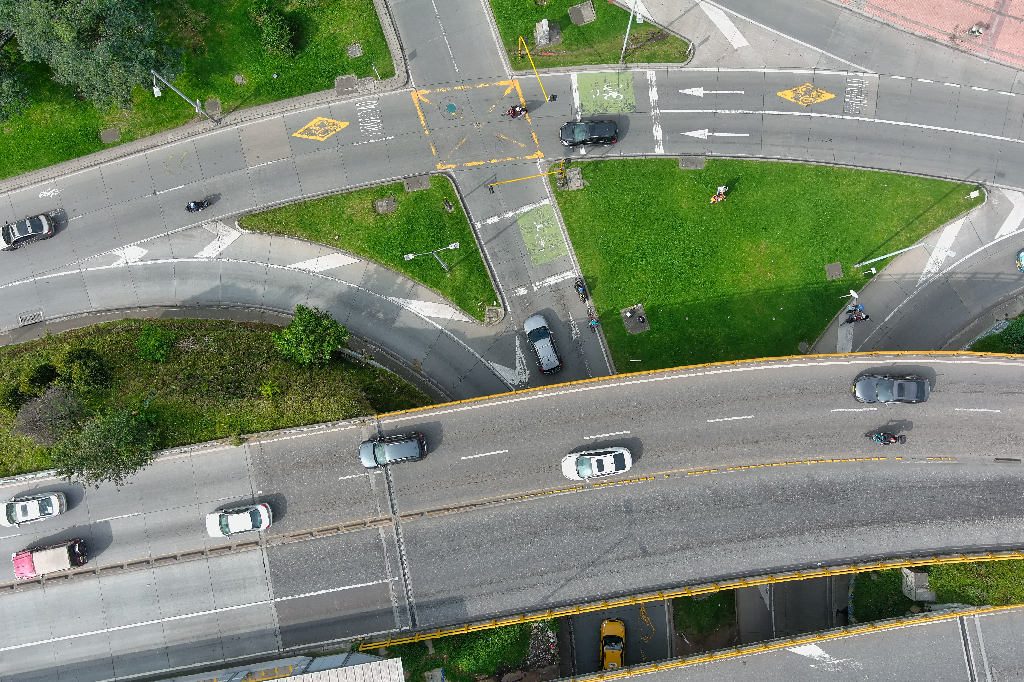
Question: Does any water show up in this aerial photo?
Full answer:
No, water can't be seen anywhere here.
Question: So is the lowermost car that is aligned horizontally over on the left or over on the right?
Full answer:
The lowermost car that is aligned horizontally is on the left side of the image.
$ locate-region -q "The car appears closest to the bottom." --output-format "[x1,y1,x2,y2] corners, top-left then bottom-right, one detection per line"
[598,617,626,668]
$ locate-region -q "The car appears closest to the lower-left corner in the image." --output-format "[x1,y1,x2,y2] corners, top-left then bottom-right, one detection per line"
[17,539,91,581]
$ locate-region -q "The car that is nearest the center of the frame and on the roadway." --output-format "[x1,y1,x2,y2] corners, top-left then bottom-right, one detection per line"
[525,314,562,376]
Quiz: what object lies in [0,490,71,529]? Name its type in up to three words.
car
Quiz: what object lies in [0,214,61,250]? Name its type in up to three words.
car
